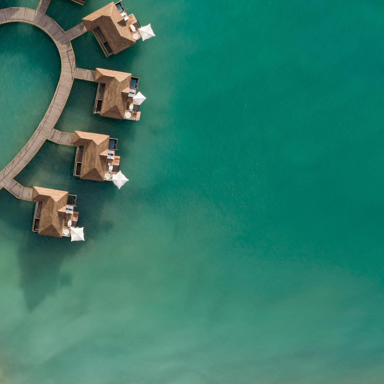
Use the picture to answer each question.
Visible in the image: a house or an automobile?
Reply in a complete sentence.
There is a house in the scene.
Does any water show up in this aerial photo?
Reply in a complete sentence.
Yes, water can be seen from above here.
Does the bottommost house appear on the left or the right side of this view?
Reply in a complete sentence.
The bottommost house is on the left side of the image.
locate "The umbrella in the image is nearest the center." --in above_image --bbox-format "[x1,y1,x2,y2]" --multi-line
[111,172,129,190]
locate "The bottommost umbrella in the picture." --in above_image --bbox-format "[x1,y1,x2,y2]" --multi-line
[70,228,85,242]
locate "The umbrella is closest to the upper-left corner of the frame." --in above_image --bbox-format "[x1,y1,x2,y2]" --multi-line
[138,24,155,41]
